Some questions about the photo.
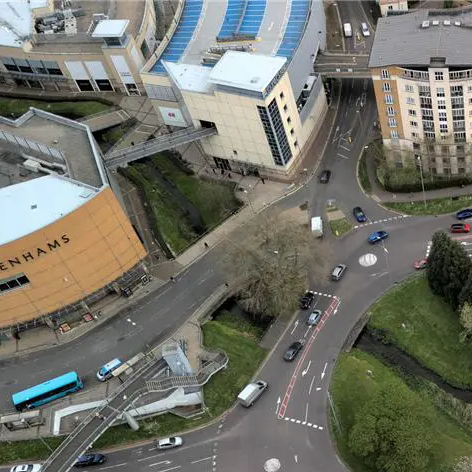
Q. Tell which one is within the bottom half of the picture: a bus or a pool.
bus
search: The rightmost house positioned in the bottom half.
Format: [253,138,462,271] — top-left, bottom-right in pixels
[159,335,200,381]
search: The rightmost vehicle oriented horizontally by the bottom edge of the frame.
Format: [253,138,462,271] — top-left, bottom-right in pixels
[156,436,184,450]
